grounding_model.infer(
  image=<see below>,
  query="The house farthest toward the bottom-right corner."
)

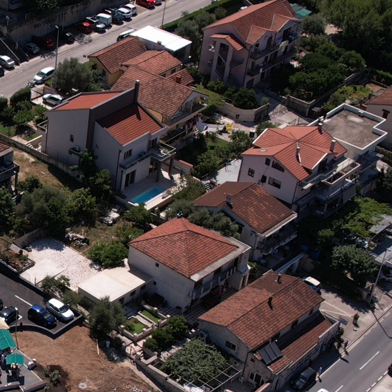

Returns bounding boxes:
[200,270,341,392]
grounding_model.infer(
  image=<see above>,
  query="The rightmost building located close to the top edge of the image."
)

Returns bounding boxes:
[198,0,302,86]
